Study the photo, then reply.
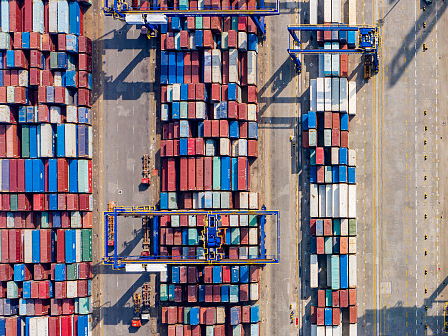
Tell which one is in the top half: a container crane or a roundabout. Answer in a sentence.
The one visible in the top half is a container crane.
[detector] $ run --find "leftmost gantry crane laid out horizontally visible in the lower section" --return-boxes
[102,202,281,275]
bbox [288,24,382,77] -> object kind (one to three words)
container crane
